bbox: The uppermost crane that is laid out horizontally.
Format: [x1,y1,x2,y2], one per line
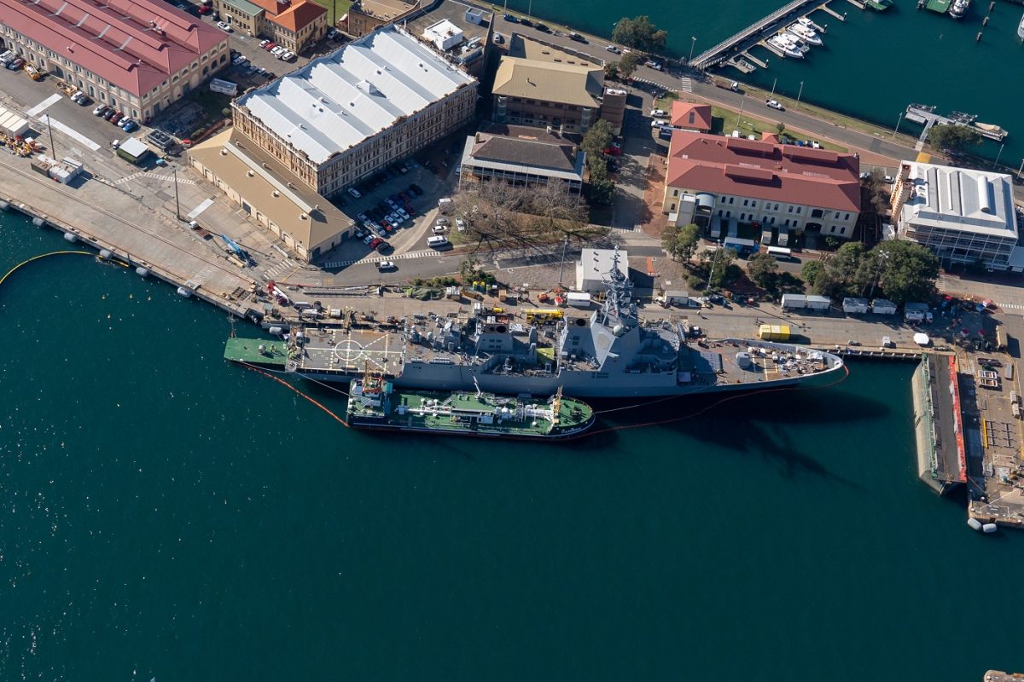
[523,309,566,322]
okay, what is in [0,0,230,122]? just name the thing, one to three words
warehouse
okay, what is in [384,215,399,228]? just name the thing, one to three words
vehicle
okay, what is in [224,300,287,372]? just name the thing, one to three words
ship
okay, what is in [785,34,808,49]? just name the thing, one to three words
boat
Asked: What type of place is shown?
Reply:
port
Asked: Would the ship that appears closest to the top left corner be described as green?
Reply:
Yes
